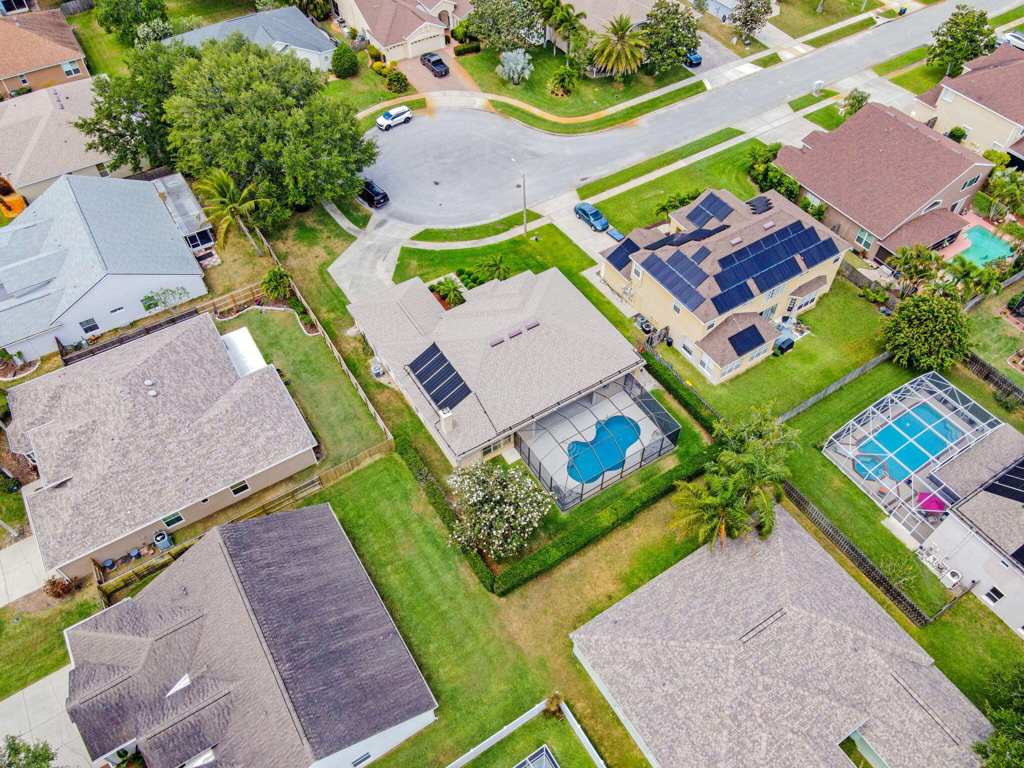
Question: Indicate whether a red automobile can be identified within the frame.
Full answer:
No, the photo shows no red automobile.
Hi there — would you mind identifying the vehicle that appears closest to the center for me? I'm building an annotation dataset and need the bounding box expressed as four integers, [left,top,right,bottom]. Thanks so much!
[573,199,609,232]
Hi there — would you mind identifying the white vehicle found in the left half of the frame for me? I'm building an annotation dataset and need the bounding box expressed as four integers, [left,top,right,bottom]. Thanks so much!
[375,105,413,129]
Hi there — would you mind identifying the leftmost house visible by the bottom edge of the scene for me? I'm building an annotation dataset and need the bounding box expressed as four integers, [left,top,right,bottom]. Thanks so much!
[55,500,439,768]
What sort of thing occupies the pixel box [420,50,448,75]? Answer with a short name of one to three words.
truck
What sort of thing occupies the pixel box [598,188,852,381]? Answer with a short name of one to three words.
house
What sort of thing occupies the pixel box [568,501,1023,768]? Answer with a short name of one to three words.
house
